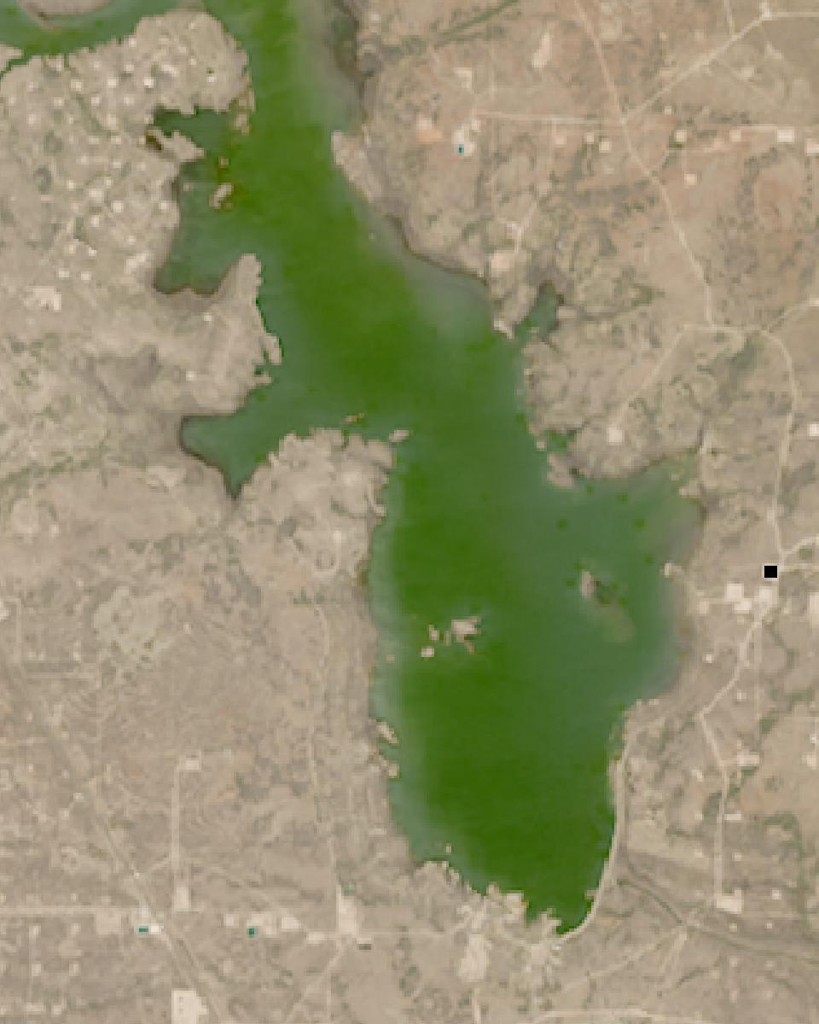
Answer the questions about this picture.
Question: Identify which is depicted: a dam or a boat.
dam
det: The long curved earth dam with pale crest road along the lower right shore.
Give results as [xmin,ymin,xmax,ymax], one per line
[553,742,634,946]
